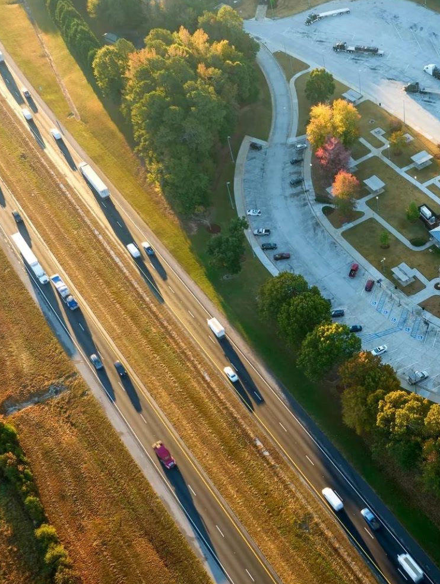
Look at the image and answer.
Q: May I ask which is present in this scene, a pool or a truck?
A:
truck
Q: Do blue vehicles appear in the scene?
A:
Yes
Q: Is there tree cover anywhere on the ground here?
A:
Yes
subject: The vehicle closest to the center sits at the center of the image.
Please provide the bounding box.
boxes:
[207,319,227,341]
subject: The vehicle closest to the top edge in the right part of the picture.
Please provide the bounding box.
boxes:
[305,8,352,27]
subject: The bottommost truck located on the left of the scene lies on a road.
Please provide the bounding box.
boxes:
[150,438,177,473]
